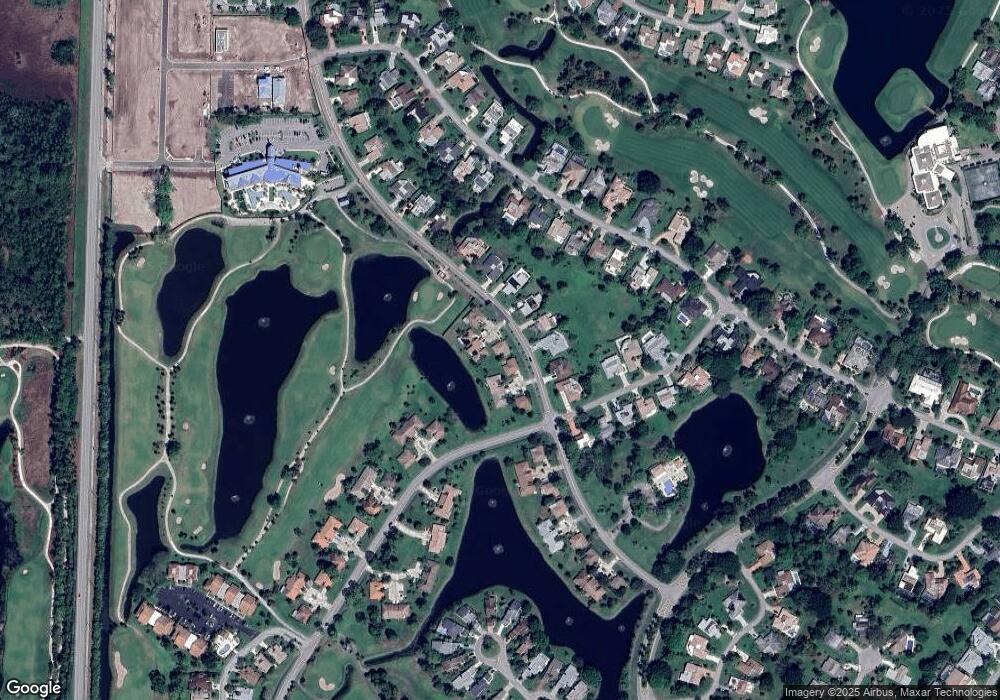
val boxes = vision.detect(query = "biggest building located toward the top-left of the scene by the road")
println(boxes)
[224,142,312,190]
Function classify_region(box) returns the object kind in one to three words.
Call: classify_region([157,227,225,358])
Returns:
pond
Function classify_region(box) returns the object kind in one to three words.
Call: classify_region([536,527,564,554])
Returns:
house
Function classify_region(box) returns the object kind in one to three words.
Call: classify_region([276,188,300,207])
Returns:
swimming pool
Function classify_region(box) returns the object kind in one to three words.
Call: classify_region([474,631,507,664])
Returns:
roundabout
